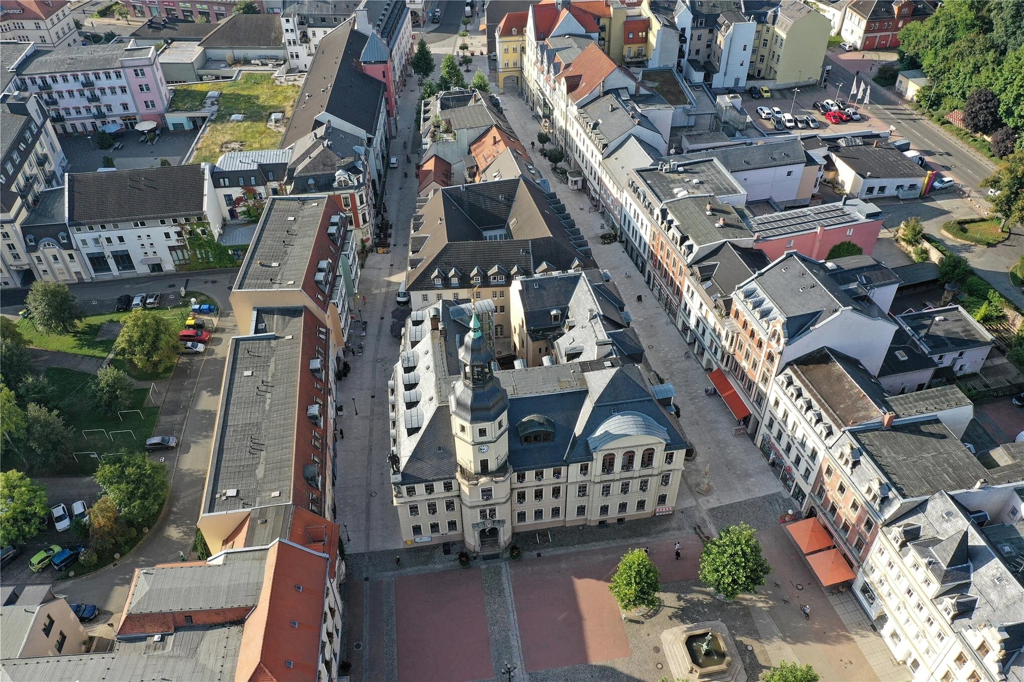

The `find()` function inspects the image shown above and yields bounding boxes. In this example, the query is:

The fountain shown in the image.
[663,612,752,682]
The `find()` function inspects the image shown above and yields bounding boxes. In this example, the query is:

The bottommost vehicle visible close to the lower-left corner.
[65,597,103,619]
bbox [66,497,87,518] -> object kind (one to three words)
car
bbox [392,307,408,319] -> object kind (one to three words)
umbrella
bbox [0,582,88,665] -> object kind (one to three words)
house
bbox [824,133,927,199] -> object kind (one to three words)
building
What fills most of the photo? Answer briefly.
buildings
